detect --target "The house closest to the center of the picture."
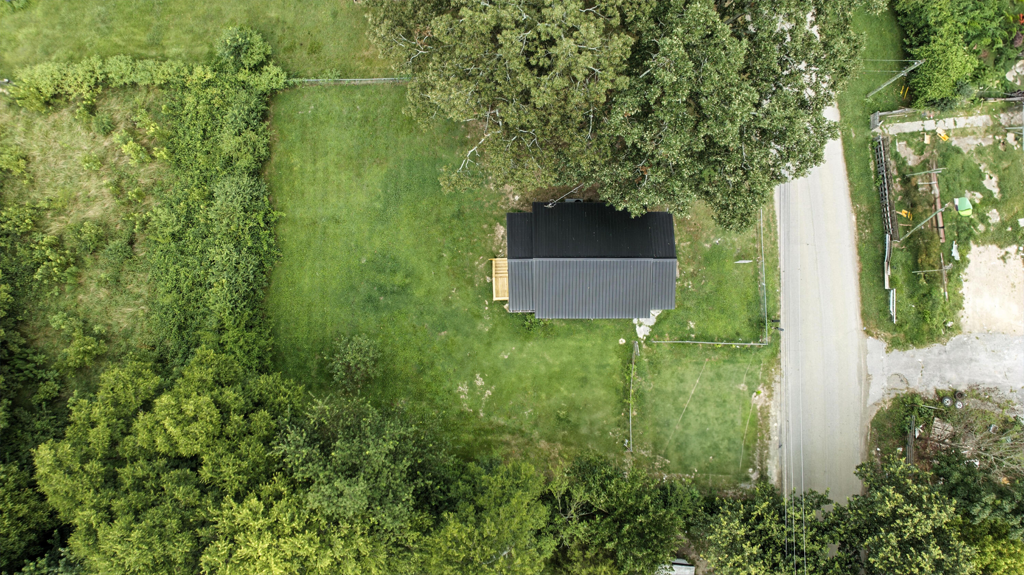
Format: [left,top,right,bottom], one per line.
[488,199,677,319]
